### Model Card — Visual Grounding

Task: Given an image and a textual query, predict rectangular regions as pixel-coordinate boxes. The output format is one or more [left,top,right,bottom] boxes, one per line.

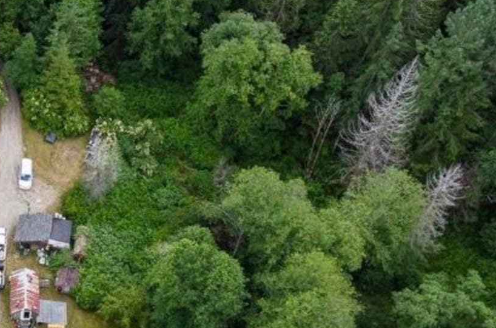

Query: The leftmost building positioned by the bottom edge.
[10,268,41,328]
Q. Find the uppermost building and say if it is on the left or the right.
left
